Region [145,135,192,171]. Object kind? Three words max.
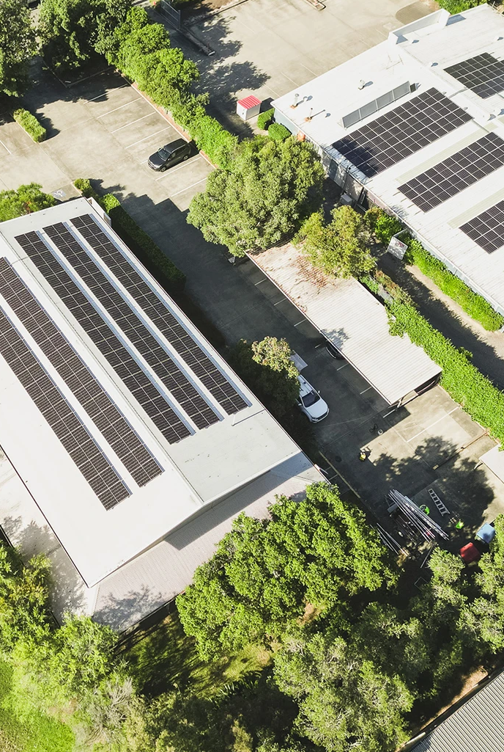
car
